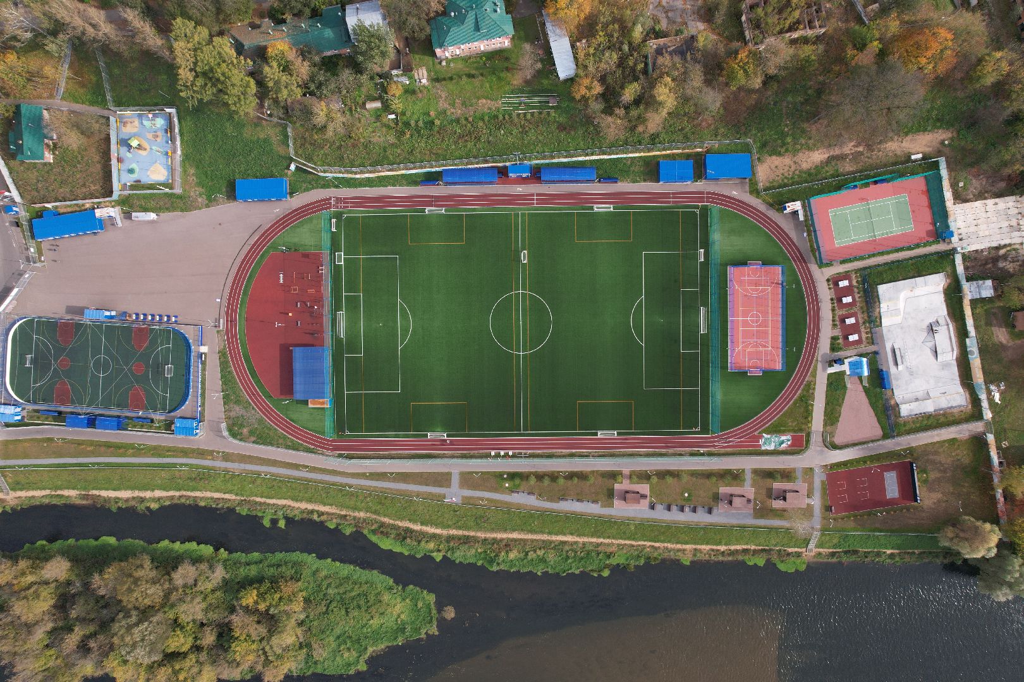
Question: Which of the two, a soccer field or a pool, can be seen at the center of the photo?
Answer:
soccer field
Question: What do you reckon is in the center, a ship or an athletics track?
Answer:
athletics track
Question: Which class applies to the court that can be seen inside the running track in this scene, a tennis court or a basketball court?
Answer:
basketball court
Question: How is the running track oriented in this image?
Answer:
from side to side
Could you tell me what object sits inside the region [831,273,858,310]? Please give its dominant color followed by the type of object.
red tennis court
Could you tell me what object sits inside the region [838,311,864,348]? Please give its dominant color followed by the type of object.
red tennis court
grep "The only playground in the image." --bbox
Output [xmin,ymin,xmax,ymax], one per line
[117,113,171,183]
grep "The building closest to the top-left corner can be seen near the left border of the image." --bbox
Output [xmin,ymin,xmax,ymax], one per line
[9,103,61,163]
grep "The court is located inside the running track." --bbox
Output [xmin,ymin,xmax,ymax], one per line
[729,262,782,375]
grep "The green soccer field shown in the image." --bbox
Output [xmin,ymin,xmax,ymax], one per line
[239,204,807,439]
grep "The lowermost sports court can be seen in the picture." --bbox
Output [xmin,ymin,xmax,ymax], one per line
[826,460,923,516]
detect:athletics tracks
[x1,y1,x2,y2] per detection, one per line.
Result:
[225,191,821,451]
